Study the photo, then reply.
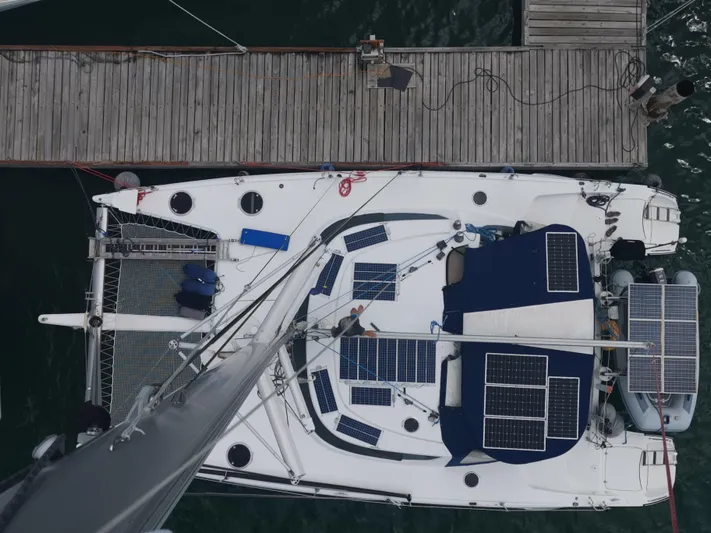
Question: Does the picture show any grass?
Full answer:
No, the scene doesn't show any grass.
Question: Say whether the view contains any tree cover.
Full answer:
No, there is no tree cover in the image.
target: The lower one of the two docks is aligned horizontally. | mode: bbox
[0,45,648,171]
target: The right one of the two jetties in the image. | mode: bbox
[522,0,647,46]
